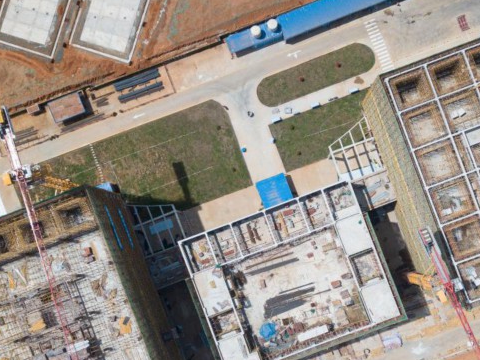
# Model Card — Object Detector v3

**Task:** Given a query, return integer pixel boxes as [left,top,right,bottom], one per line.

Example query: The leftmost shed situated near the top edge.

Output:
[223,15,284,62]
